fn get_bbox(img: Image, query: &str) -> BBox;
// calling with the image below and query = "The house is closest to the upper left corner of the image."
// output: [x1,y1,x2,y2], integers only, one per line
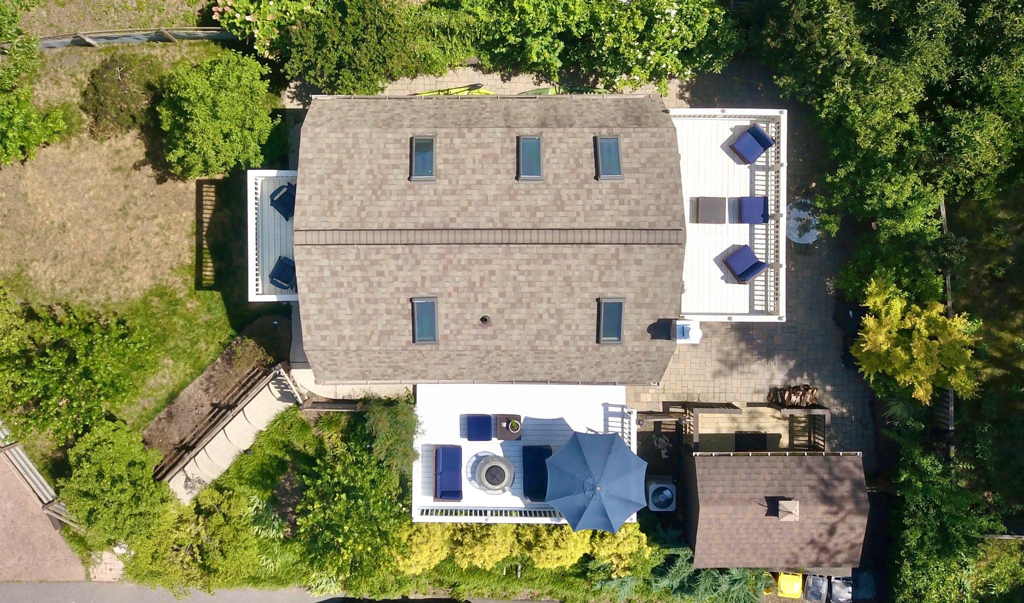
[295,93,701,386]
